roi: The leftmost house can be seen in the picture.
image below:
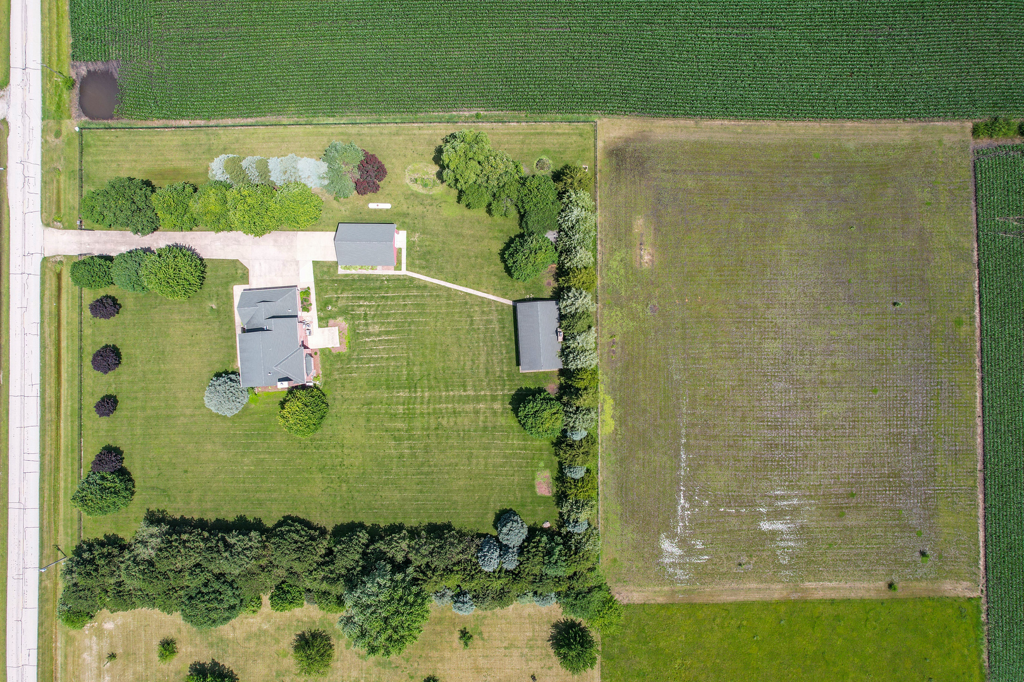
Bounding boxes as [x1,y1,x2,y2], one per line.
[237,287,316,388]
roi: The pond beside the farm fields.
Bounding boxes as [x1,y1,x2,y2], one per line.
[79,69,119,119]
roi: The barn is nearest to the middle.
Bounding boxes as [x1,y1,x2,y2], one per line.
[517,300,564,371]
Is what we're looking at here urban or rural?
rural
